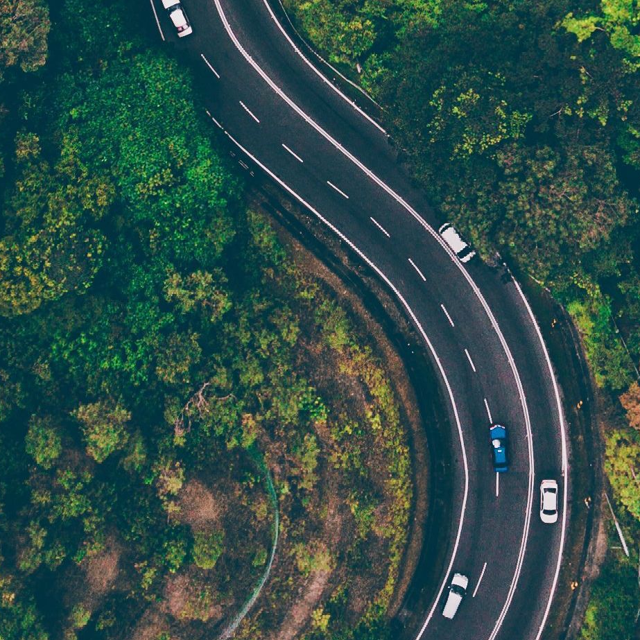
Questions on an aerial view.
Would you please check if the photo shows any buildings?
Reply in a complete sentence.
No, no building is visible in the view.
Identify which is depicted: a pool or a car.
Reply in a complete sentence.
Of the two, only a car appears.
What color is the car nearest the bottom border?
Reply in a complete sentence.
In this view, the car nearest the bottom border is white.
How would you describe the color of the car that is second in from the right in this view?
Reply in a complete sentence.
The car that is second in from the right looks blue in the image.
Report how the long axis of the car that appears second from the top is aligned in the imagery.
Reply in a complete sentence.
I'd say the car that appears second from the top is aligned diagonally in the picture.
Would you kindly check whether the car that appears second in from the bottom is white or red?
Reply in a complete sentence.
The color of the car that appears second in from the bottom is white.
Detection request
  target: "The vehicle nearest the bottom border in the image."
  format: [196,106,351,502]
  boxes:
[441,575,468,621]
